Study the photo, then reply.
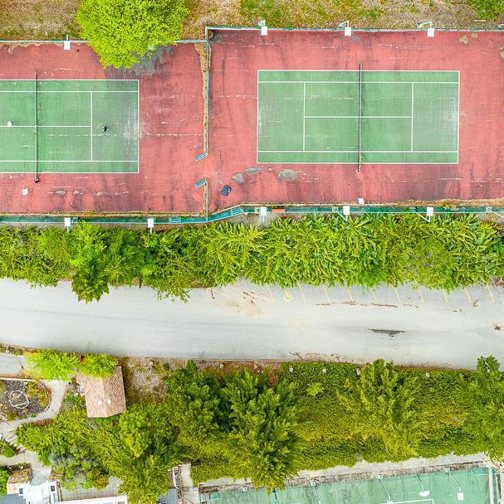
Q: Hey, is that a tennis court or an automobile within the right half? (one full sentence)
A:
The one visible within the right half is a tennis court.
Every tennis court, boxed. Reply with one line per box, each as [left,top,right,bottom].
[0,37,220,216]
[205,468,489,504]
[209,26,504,217]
